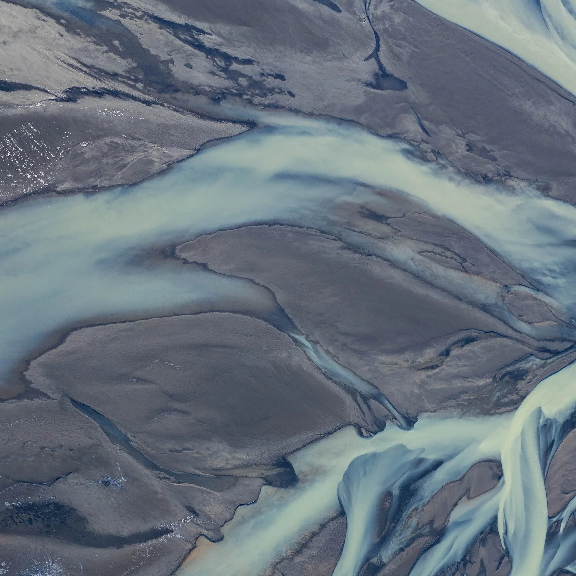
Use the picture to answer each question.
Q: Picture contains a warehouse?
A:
No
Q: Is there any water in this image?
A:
Yes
